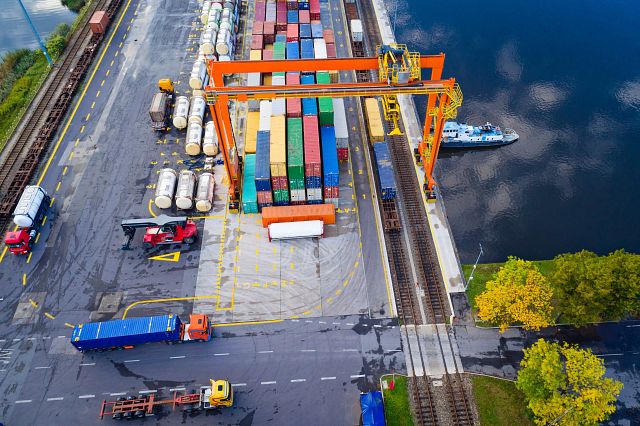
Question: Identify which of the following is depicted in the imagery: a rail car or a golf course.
rail car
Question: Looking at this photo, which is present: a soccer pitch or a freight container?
freight container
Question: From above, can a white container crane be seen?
No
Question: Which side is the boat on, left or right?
right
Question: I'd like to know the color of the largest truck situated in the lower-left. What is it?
blue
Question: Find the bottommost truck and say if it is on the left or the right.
left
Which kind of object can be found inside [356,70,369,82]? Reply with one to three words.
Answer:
rail car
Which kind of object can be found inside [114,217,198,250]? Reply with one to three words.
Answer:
work vehicle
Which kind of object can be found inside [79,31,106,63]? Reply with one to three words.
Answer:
rail car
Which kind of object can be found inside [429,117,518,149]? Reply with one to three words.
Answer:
boat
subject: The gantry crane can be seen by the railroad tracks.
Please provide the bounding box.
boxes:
[197,43,469,217]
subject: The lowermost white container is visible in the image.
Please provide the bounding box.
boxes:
[268,216,323,242]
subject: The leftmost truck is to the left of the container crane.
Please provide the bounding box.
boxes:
[3,186,52,257]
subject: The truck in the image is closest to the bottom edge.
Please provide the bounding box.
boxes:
[98,382,231,420]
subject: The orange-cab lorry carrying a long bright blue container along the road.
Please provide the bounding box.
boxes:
[70,315,212,354]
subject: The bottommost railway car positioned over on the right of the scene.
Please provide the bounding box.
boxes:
[373,162,399,226]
